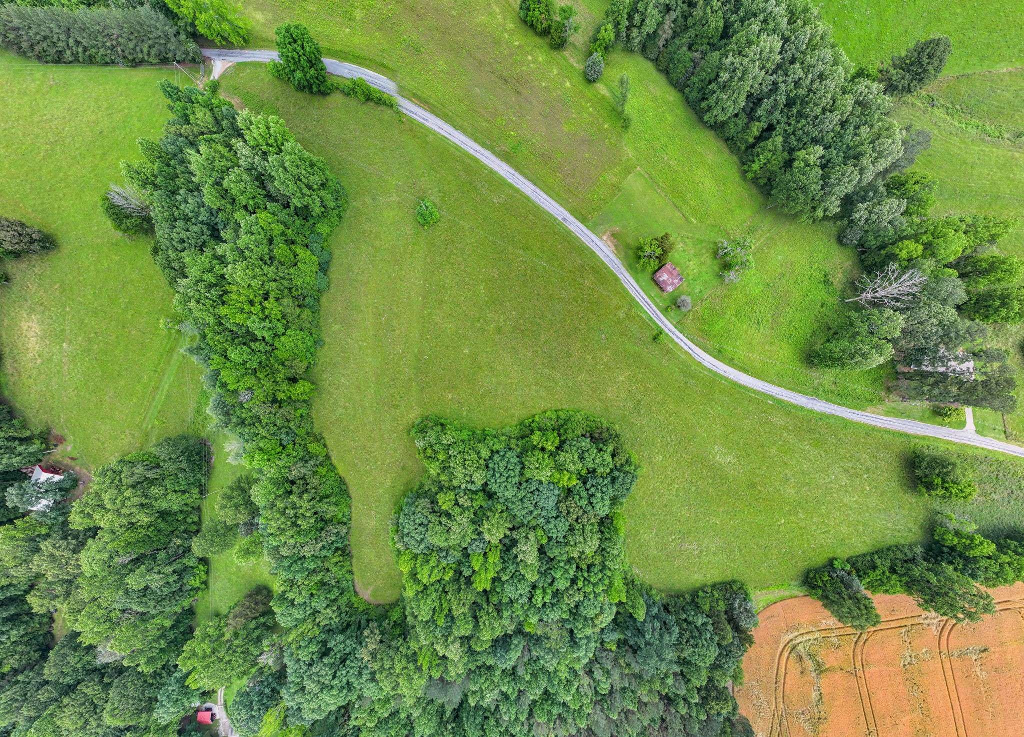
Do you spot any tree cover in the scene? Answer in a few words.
Yes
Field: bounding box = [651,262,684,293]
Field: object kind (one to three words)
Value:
barn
